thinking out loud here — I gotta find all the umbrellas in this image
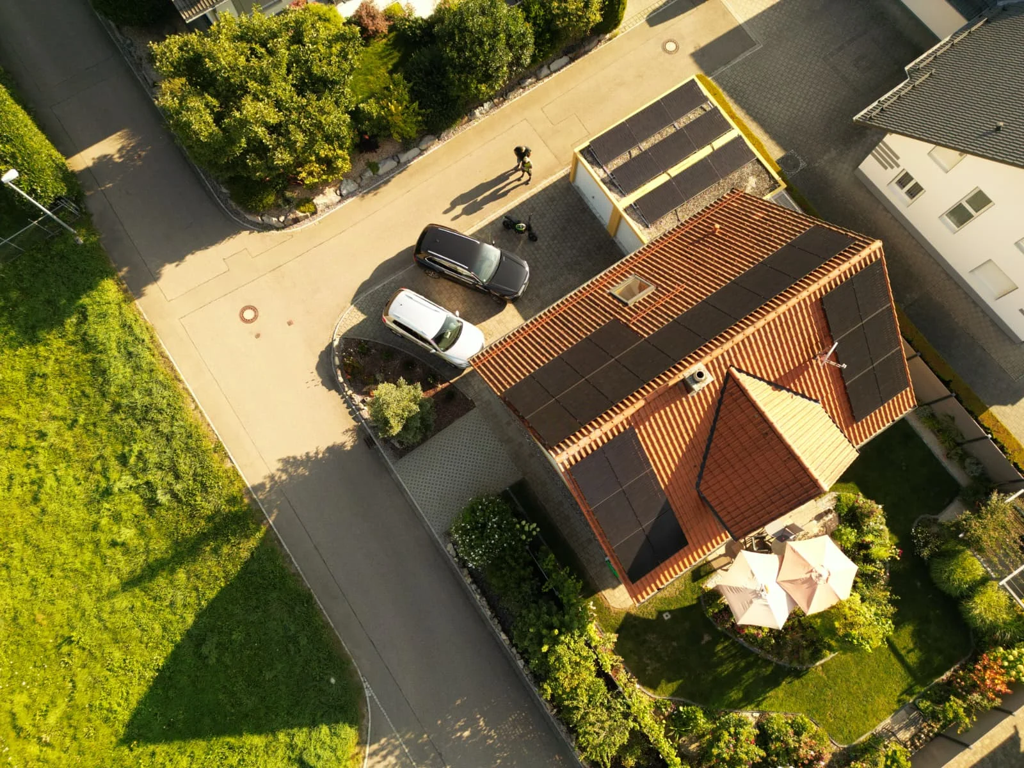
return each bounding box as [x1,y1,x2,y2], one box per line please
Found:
[776,535,858,616]
[718,550,792,629]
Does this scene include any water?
No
